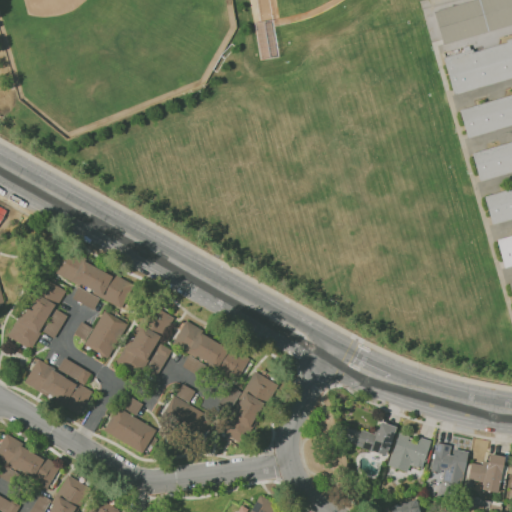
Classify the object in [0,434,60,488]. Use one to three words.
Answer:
house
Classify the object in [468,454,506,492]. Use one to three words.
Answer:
house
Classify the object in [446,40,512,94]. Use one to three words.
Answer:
building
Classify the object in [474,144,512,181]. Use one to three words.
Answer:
building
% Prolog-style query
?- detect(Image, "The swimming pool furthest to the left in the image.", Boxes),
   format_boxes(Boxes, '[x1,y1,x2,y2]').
[358,452,386,479]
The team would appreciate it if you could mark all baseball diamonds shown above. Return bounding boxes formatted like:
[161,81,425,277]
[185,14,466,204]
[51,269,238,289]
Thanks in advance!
[0,0,236,138]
